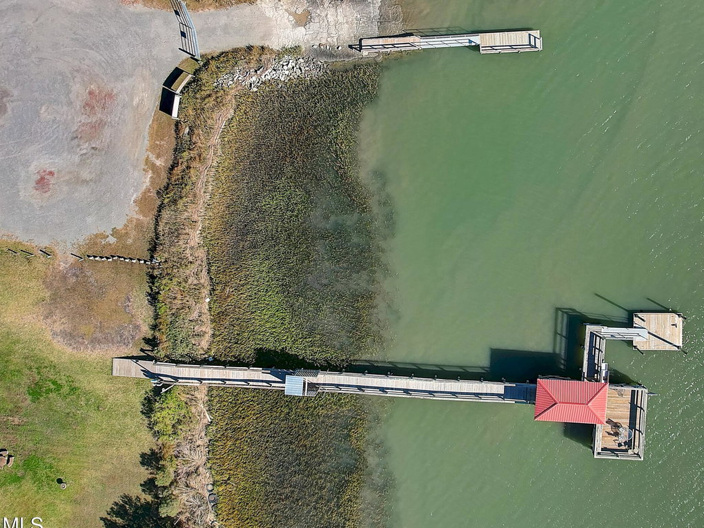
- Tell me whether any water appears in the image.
Yes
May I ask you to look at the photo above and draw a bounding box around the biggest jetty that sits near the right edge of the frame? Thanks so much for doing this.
[632,312,682,351]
